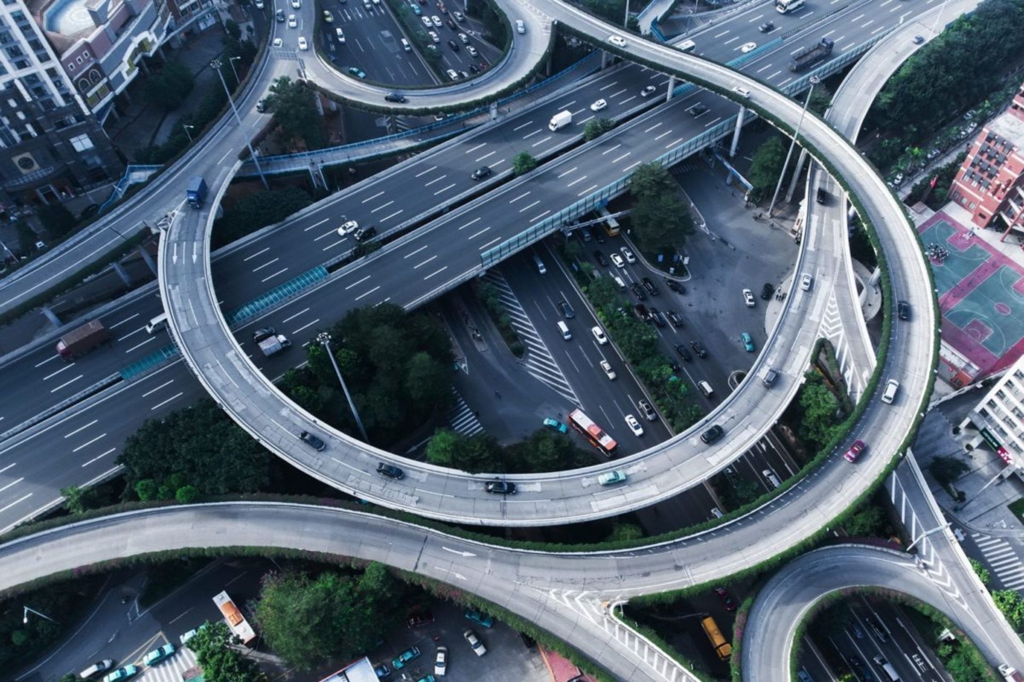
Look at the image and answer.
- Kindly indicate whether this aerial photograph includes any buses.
Yes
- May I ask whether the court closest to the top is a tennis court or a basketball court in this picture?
basketball court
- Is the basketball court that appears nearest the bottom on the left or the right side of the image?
right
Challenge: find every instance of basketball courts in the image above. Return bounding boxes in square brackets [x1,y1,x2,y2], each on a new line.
[922,220,995,298]
[943,264,1024,357]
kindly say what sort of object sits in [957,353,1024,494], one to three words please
building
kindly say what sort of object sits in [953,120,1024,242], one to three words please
building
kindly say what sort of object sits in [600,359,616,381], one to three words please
car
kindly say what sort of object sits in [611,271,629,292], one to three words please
vehicle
